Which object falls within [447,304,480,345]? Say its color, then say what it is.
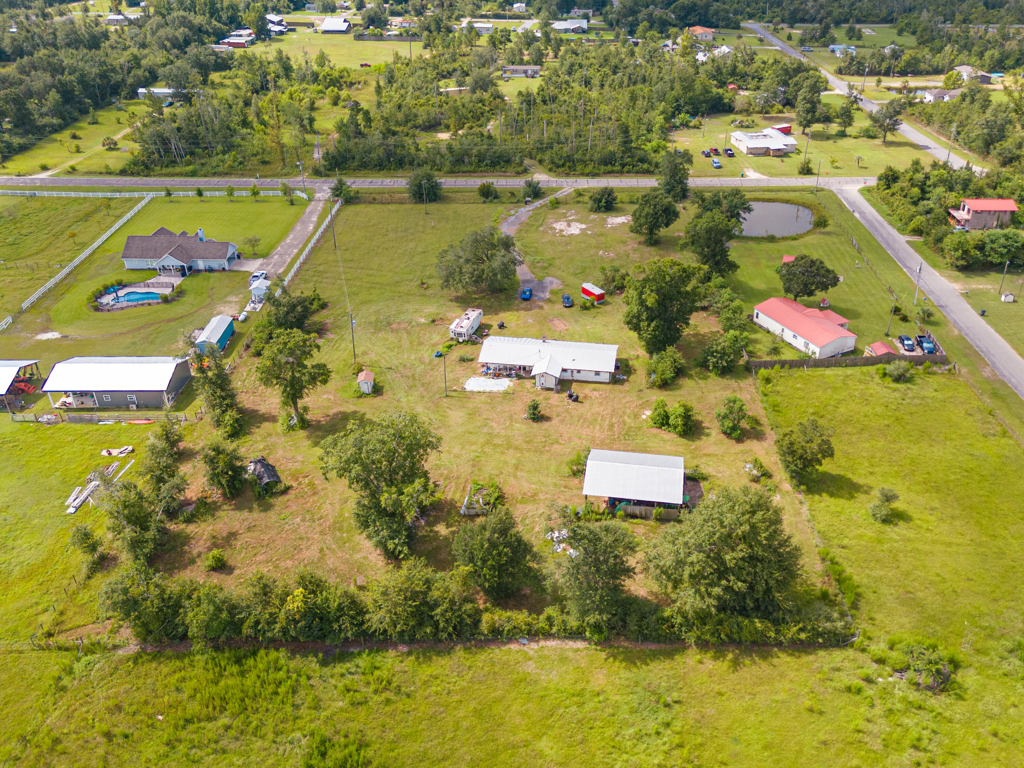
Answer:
white vehicle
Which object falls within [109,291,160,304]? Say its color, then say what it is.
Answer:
blue swimming pool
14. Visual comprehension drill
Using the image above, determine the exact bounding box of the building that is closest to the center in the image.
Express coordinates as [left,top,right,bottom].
[478,336,615,386]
